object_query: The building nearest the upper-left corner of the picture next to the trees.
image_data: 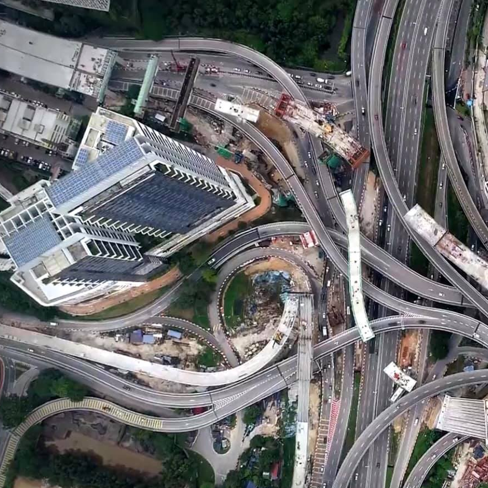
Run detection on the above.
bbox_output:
[0,0,61,20]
